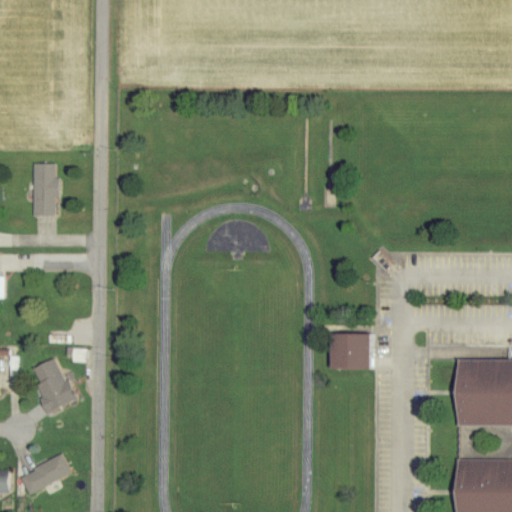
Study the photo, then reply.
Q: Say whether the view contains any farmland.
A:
Yes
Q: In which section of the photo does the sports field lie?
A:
bottom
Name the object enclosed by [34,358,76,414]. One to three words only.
house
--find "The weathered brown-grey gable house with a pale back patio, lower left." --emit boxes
[21,454,72,496]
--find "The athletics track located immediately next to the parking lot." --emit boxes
[160,203,314,512]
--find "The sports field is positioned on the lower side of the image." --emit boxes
[182,262,292,512]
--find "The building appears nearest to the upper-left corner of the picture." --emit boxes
[34,164,58,216]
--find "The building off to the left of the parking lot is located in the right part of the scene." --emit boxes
[330,333,374,370]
